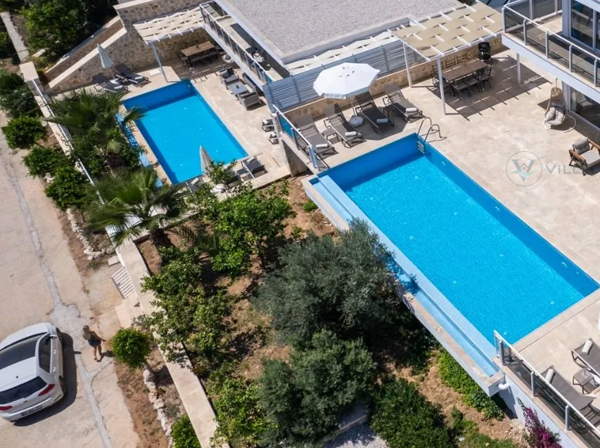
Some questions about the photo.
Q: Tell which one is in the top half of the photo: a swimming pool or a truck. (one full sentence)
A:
Visible in the top half of the photo is a swimming pool.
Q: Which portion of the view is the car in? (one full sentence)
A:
The car is located in the bottom left region of the scene.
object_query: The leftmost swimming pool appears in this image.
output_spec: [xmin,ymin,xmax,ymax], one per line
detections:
[114,80,252,206]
